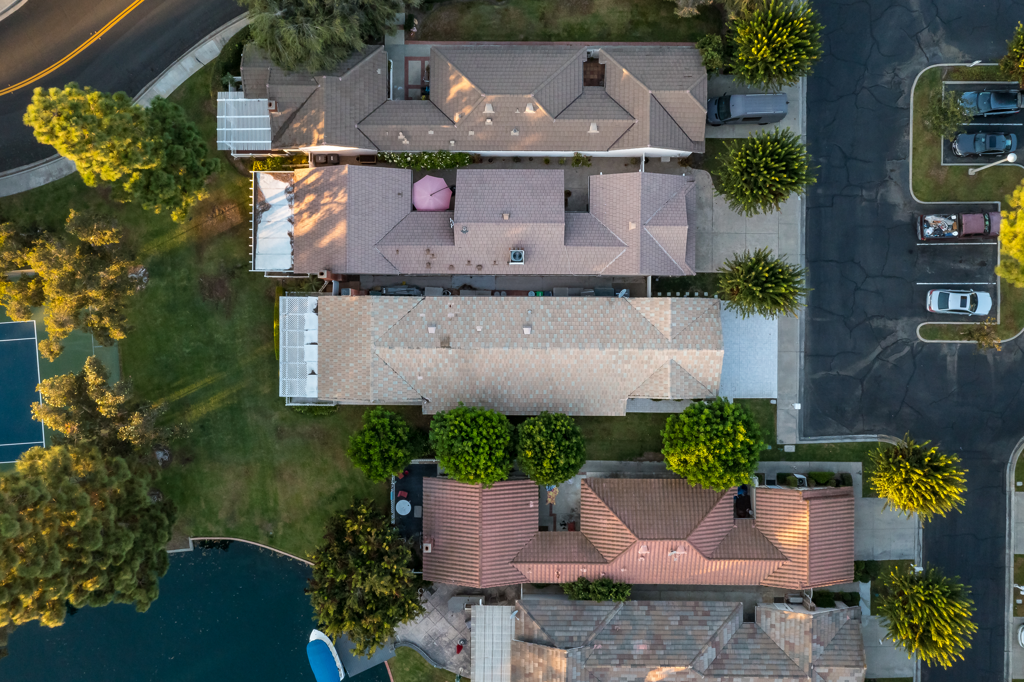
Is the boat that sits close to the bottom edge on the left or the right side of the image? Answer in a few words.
left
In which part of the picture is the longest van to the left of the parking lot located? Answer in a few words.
top right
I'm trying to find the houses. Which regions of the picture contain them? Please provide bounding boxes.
[422,474,855,590]
[238,43,709,159]
[512,590,866,682]
[294,164,697,284]
[317,289,726,417]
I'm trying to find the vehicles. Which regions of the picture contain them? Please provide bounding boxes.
[925,287,993,317]
[951,126,1019,158]
[954,86,1024,119]
[912,207,1002,240]
[707,91,787,126]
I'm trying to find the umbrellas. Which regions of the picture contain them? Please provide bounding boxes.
[459,638,467,657]
[413,176,456,211]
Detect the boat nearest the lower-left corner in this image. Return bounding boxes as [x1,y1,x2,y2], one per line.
[303,627,344,682]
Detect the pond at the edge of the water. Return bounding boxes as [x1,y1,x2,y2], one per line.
[0,540,391,682]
